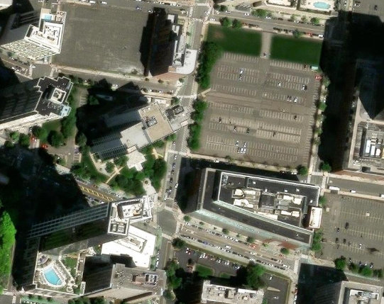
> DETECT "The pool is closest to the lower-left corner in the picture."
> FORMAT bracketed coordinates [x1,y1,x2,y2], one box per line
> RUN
[44,267,62,285]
